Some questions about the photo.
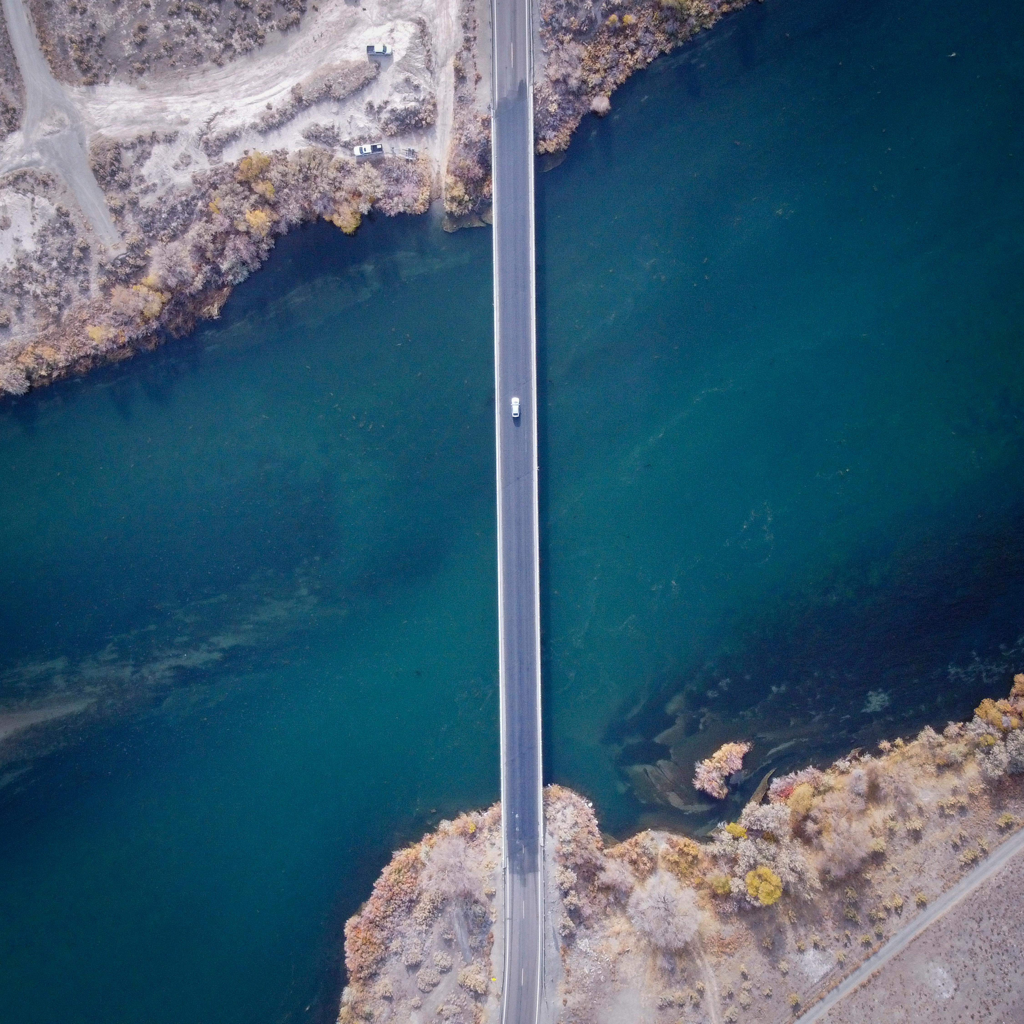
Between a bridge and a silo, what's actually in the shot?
bridge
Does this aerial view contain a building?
No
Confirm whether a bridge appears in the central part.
Yes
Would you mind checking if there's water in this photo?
Yes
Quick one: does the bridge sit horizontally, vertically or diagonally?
vertically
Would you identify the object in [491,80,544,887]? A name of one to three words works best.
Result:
bridge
